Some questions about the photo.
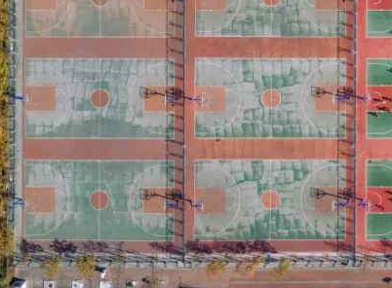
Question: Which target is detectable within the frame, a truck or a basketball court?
basketball court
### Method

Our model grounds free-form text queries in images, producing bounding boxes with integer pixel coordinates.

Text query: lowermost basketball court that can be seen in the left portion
[26,160,175,241]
